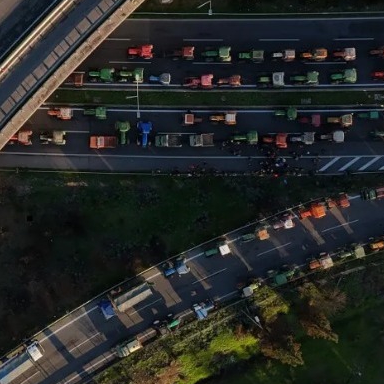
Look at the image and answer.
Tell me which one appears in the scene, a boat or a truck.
truck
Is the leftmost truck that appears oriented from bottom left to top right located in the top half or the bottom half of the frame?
bottom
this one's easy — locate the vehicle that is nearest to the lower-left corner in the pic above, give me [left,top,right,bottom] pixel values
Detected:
[0,344,52,384]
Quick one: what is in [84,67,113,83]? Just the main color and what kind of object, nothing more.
green work vehicle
